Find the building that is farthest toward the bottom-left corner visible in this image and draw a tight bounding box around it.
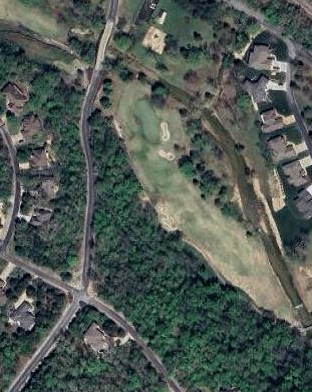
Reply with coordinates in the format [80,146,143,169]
[11,300,36,325]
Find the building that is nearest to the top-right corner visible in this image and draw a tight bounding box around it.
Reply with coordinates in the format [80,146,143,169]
[246,43,270,72]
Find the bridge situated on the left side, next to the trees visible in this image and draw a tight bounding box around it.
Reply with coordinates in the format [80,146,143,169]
[93,10,117,64]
